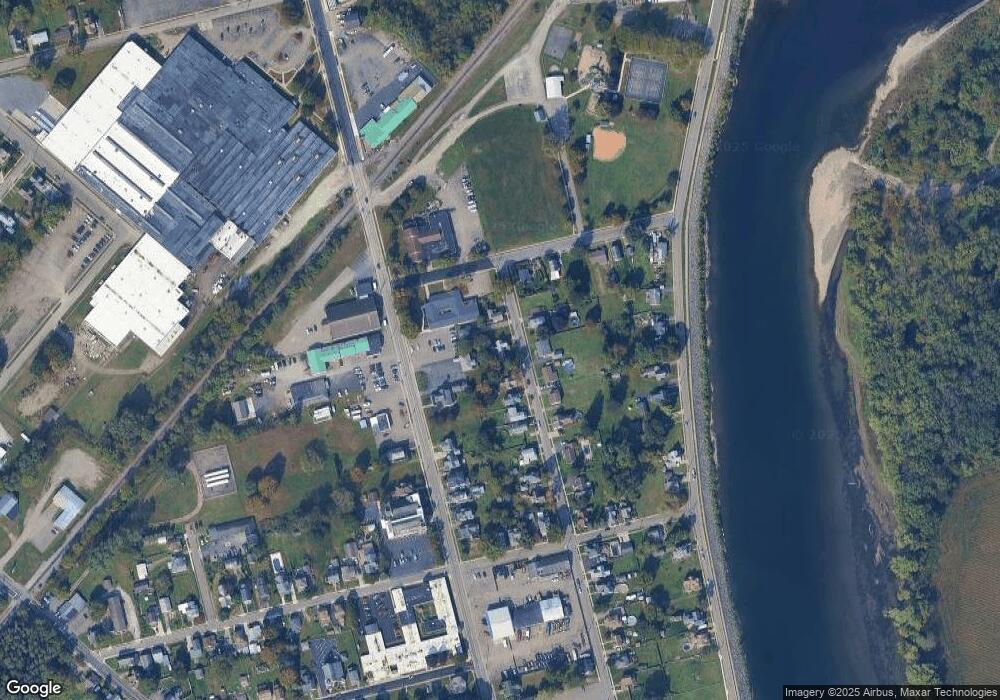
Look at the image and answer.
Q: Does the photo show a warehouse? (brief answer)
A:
Yes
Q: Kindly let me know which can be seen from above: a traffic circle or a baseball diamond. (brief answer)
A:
baseball diamond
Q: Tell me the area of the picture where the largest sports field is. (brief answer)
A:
top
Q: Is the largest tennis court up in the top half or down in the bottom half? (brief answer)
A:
top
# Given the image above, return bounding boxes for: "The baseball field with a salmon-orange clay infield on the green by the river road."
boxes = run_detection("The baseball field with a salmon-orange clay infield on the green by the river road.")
[591,124,627,161]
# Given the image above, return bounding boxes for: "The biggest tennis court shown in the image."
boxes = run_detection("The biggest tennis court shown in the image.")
[625,59,667,103]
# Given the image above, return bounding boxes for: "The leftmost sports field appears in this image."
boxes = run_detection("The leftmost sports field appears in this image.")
[446,109,574,249]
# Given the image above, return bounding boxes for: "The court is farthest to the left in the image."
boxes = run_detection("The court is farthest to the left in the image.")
[545,26,573,58]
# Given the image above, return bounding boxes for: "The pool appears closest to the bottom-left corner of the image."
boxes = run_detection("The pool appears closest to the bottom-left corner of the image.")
[271,552,284,573]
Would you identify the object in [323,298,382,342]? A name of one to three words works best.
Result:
barn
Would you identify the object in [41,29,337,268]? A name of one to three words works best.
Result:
warehouse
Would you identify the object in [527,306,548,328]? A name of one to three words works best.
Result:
house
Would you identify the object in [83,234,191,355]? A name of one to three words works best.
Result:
building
